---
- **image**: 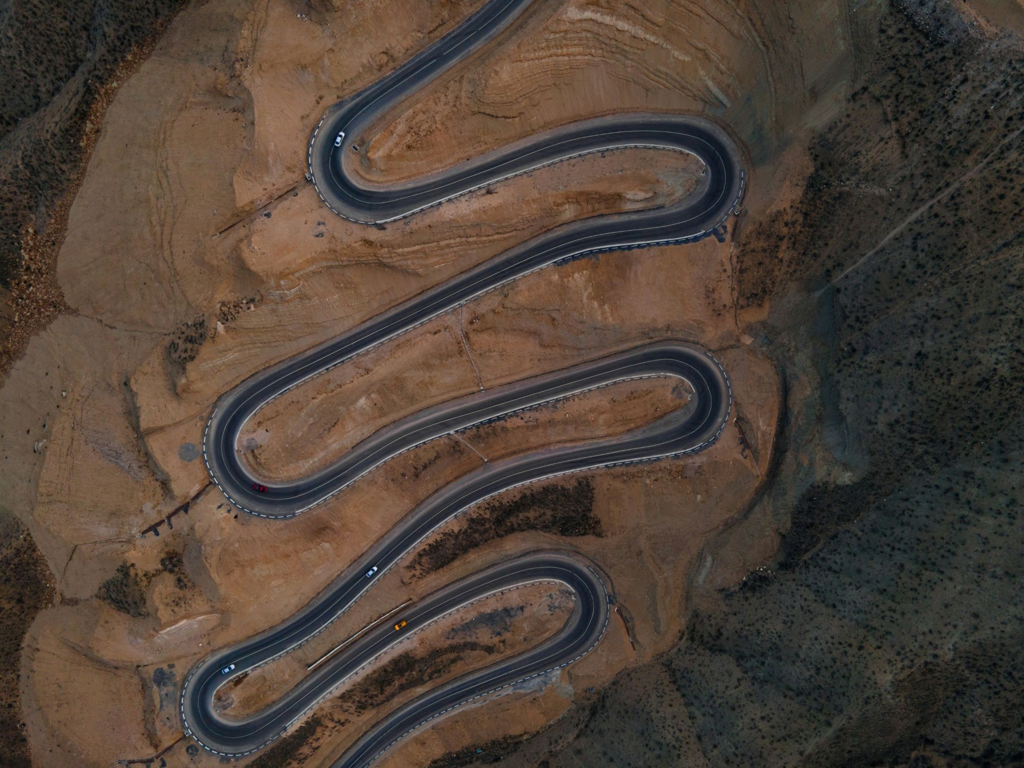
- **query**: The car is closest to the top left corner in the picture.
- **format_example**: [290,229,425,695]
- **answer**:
[334,131,346,147]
